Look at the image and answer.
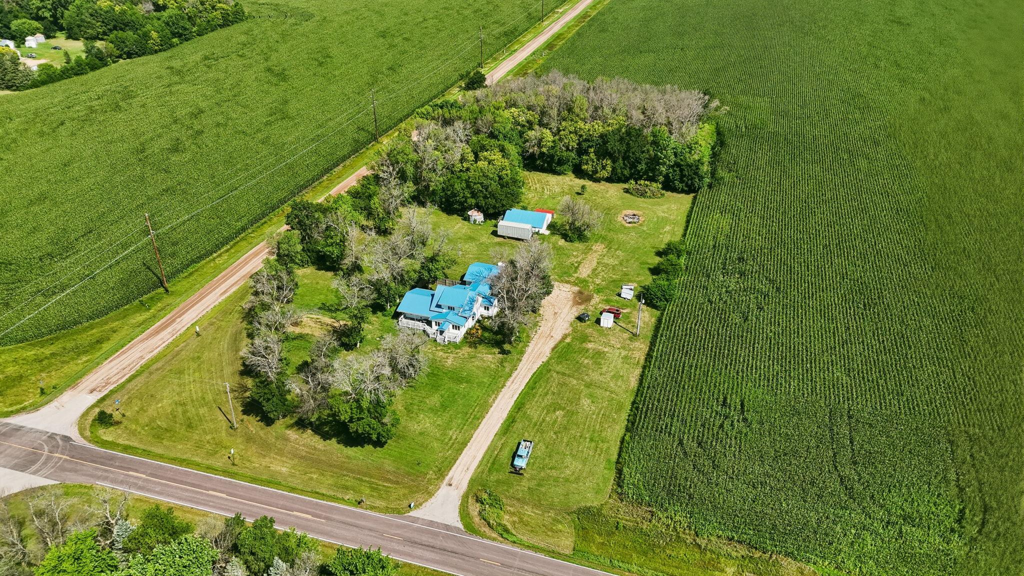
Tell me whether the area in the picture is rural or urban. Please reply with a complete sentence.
From above, the setting appears rural.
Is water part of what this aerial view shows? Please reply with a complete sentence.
No, the picture contains no water.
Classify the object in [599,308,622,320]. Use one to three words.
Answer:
vehicle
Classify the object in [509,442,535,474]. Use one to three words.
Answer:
truck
